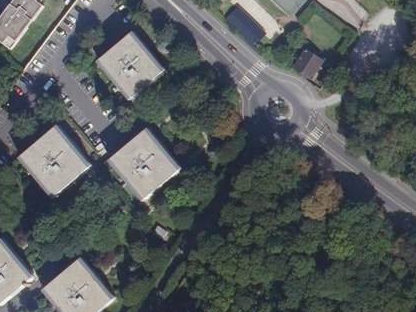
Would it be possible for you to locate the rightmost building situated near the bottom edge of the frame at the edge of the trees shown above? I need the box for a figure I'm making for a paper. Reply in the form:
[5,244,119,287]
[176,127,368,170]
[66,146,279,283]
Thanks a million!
[42,258,113,312]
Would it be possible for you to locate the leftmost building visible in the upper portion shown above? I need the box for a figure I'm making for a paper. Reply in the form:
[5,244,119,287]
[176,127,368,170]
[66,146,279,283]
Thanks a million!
[0,0,46,50]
